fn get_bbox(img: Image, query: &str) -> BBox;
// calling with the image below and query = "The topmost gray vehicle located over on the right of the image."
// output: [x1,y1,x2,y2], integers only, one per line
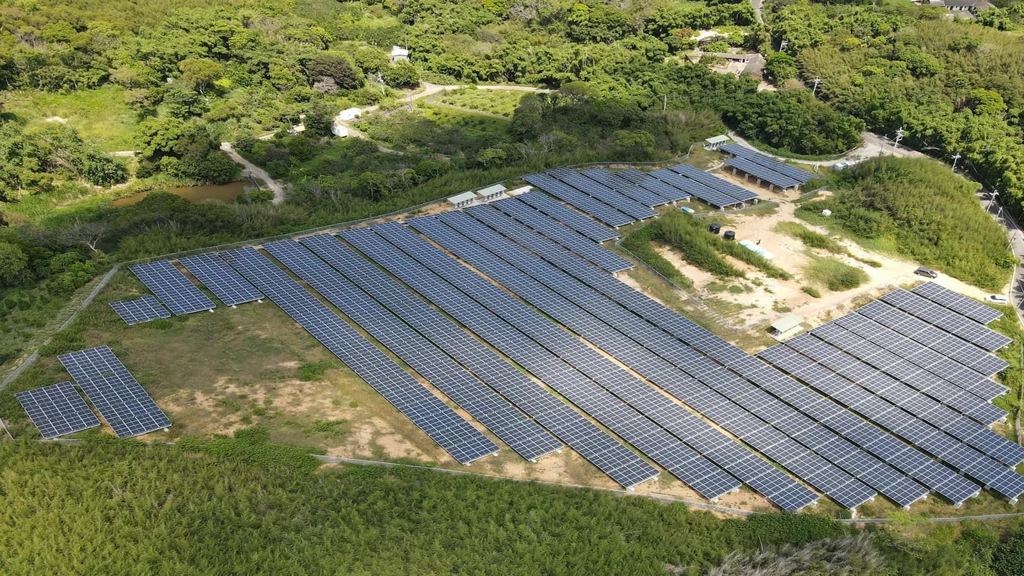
[915,266,938,279]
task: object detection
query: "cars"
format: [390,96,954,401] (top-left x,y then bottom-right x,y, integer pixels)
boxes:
[915,266,938,279]
[984,294,1010,305]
